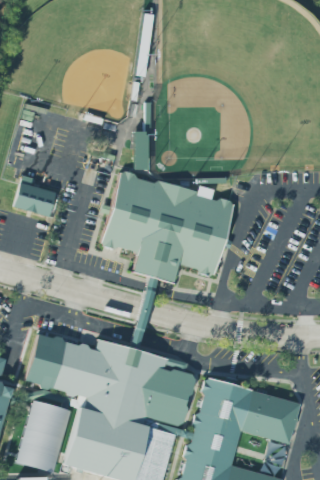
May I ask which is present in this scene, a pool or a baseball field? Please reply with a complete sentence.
It is a baseball field that can be seen here.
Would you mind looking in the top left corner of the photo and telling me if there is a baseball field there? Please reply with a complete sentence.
Yes, a baseball field is visible in the top left corner of the photo.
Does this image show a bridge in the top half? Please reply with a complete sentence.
No, there is no bridge in the top half.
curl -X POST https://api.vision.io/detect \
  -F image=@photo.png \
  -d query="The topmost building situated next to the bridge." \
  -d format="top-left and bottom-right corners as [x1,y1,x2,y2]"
[100,170,234,285]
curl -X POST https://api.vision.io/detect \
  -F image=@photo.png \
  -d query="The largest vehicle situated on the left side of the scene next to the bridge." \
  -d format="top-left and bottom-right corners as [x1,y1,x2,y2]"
[104,309,132,322]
